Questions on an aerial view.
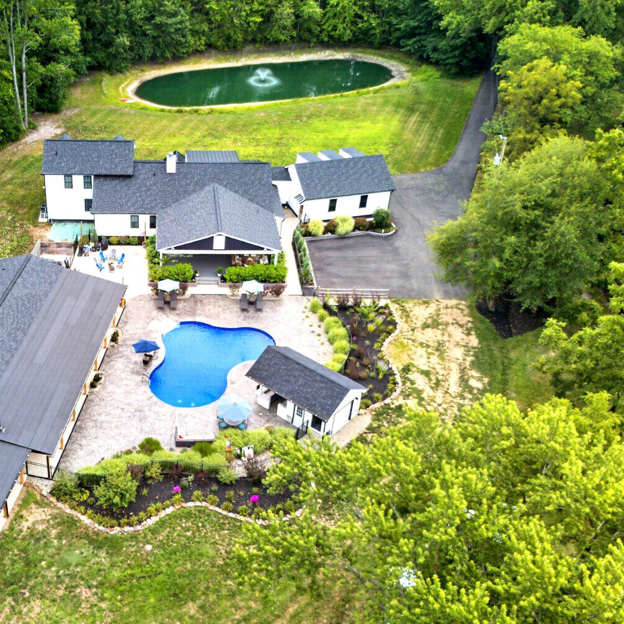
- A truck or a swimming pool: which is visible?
swimming pool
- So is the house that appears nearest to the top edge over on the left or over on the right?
left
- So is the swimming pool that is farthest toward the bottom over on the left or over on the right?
left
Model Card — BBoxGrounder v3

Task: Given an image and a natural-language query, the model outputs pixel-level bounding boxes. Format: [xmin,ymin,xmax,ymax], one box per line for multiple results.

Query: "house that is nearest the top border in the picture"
[39,131,394,286]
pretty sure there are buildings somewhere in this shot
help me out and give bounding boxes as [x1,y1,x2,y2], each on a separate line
[0,253,129,537]
[39,131,394,286]
[245,346,365,440]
